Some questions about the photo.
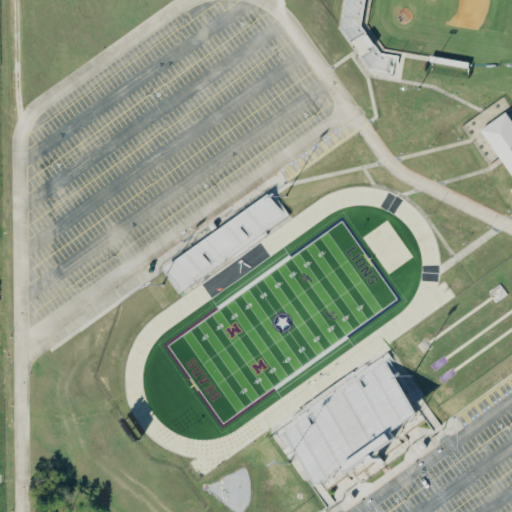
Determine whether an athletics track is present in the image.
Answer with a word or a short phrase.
Yes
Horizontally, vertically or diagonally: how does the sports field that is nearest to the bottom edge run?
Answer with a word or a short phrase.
diagonally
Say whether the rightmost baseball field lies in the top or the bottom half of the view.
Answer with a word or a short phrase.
top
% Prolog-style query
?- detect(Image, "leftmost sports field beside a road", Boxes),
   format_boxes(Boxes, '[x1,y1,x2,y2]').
[144,206,422,440]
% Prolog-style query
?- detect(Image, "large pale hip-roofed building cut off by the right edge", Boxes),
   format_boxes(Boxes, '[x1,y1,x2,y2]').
[482,113,512,174]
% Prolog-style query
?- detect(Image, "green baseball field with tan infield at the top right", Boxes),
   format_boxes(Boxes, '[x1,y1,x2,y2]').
[369,0,512,66]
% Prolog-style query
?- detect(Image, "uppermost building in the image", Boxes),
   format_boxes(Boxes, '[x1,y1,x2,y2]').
[352,34,378,58]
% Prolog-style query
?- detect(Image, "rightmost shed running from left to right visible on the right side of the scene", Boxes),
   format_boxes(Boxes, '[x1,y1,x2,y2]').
[428,56,472,78]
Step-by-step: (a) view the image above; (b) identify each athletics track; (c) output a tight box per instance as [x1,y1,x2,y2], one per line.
[126,187,455,475]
